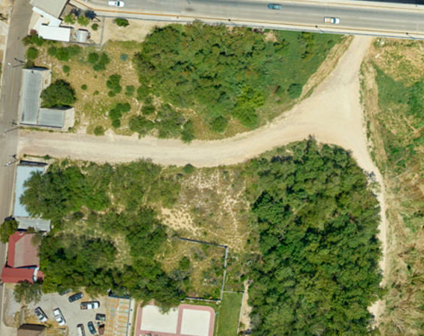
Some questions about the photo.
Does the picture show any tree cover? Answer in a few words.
Yes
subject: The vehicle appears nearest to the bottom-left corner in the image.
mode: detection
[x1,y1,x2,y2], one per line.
[32,309,48,323]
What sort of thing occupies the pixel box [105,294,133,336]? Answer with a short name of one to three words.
building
